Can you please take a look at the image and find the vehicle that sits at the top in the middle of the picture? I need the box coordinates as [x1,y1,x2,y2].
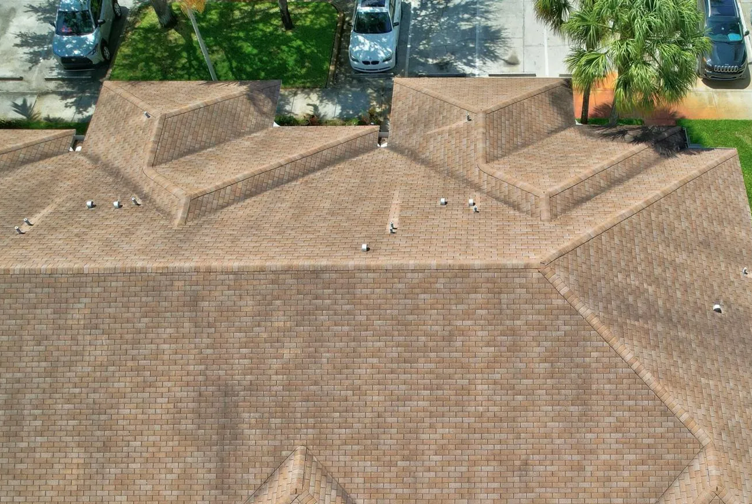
[345,0,406,68]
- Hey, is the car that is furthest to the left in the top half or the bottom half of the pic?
top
